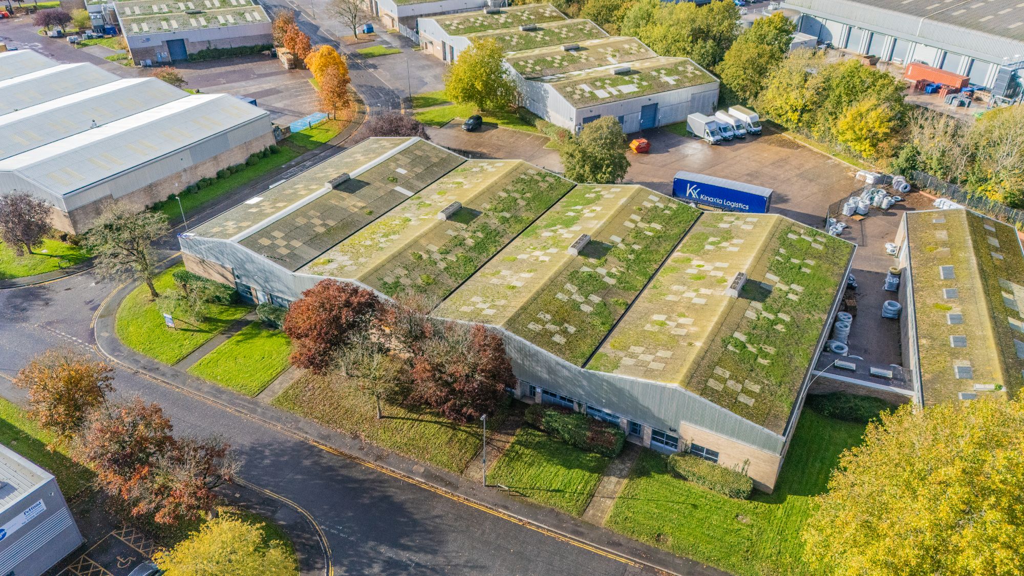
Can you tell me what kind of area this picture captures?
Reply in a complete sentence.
The area seen from above is an industrial area.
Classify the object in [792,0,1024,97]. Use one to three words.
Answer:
building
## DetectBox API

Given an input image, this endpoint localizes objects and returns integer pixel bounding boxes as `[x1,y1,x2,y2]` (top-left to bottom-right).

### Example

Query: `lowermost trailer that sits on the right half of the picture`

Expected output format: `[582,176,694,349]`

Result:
[673,172,771,211]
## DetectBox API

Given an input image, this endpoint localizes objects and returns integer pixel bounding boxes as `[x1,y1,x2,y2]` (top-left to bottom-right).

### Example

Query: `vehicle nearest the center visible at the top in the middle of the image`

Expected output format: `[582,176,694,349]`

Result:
[461,116,483,132]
